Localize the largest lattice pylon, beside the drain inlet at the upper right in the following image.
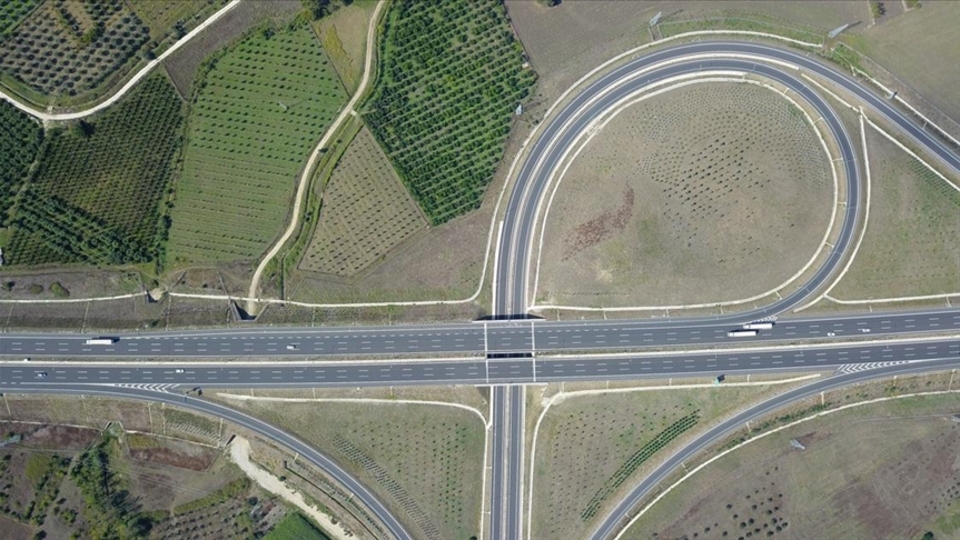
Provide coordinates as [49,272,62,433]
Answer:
[827,21,856,41]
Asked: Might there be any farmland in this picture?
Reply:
Yes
